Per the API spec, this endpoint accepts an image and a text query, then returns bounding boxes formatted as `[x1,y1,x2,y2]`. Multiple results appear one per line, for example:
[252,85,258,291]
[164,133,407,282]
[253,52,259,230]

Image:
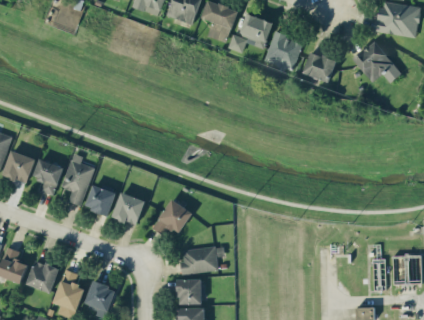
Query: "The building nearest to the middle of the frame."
[152,200,192,234]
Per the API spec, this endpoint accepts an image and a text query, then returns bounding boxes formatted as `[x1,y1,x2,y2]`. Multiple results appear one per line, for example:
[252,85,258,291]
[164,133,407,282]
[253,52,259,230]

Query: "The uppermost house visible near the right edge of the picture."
[376,2,419,36]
